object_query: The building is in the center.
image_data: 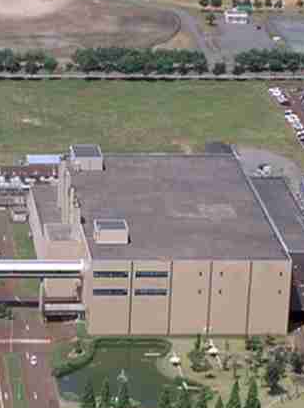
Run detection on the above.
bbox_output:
[28,143,293,334]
